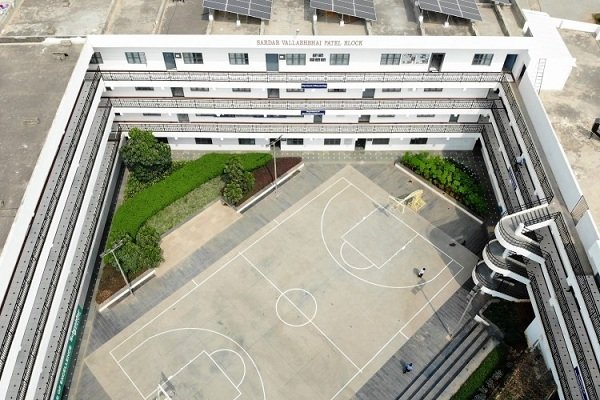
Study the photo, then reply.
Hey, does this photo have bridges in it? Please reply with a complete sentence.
No, I can see no bridge in this picture.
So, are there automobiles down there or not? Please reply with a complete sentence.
No, no automobile is visible in the scene.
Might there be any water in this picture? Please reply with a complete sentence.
No, the picture contains no water.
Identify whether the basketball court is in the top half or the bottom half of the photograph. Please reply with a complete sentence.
Seen from above, the basketball court lies in the bottom half of the view.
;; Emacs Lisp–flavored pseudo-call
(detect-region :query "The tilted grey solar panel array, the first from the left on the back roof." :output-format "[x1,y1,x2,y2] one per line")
[203,0,283,32]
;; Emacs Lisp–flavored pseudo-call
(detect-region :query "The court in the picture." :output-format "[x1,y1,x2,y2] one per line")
[81,163,483,400]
